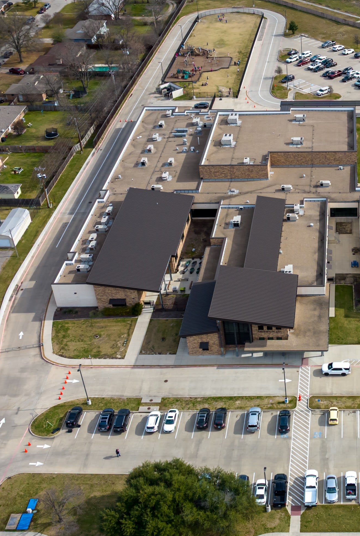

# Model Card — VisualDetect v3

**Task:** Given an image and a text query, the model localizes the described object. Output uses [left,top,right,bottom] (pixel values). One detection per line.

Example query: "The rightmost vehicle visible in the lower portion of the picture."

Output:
[342,472,358,504]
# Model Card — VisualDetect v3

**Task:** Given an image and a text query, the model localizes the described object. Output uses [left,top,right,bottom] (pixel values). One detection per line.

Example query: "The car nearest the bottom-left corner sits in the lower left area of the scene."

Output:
[62,407,82,430]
